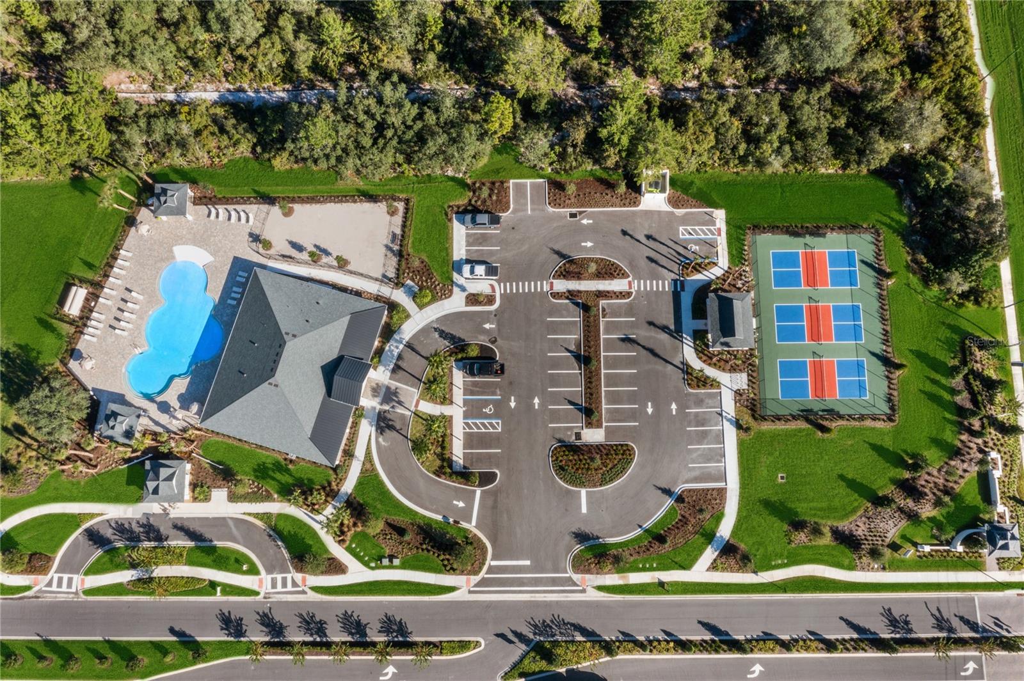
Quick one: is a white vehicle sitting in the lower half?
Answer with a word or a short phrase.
No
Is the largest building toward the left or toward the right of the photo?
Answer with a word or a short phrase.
left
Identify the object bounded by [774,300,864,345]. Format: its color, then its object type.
blue sports court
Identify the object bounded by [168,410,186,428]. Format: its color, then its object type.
white umbrella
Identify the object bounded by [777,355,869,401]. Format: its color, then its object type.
blue sports court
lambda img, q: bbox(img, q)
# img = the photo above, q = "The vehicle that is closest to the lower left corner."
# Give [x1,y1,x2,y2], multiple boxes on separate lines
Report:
[463,360,503,376]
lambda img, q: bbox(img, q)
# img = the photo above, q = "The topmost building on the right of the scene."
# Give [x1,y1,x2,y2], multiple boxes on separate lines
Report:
[704,292,755,351]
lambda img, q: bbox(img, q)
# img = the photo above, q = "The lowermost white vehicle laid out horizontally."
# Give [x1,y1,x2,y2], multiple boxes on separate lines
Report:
[462,263,501,279]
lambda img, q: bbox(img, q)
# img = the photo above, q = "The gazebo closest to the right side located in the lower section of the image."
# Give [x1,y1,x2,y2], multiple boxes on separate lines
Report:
[973,523,1023,557]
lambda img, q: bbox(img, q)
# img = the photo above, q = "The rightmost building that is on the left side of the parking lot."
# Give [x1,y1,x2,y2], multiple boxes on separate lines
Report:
[197,267,389,467]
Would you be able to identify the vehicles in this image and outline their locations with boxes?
[463,360,503,376]
[463,212,502,228]
[462,263,501,279]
